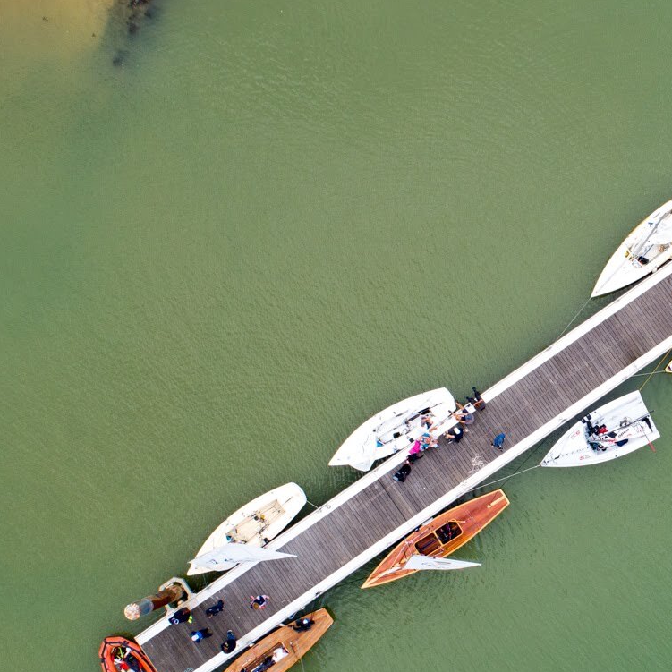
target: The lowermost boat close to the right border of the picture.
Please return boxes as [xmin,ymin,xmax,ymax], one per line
[540,390,660,468]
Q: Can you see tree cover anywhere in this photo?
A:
No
